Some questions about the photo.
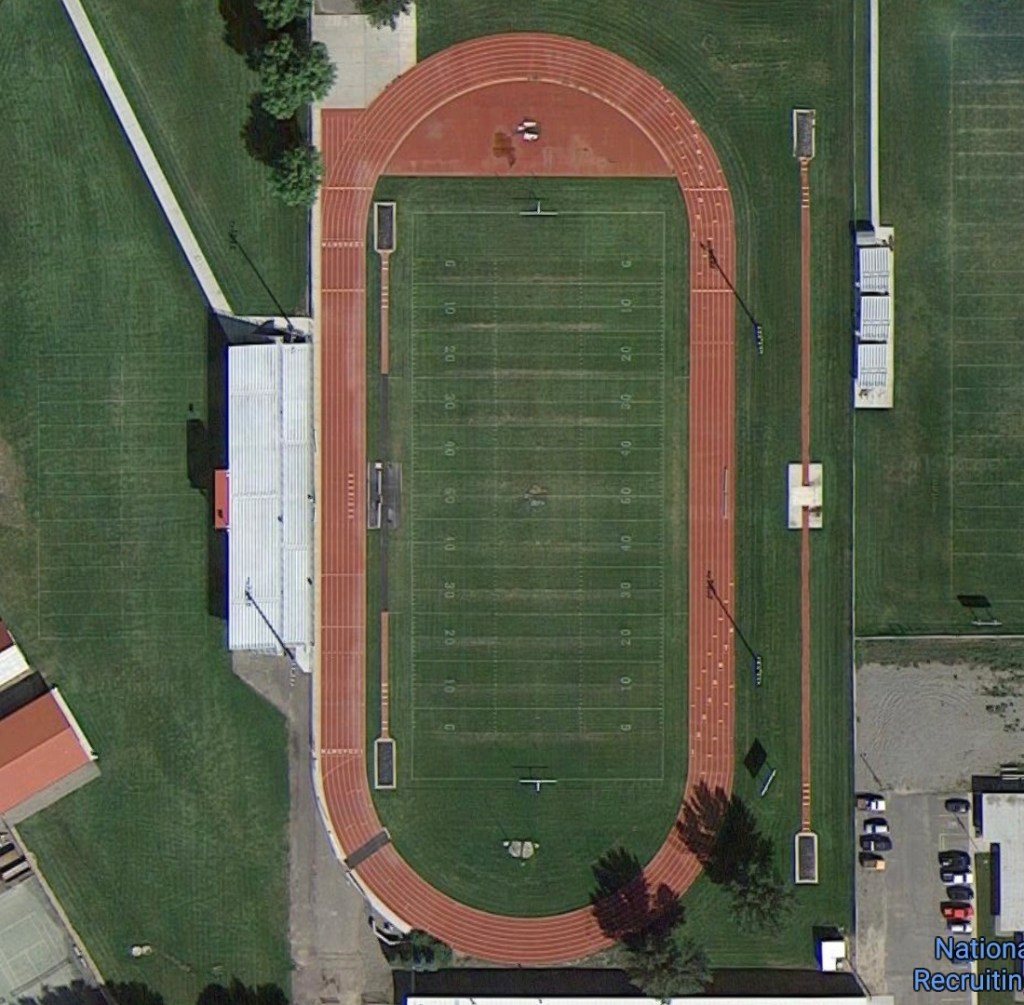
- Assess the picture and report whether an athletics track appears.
Yes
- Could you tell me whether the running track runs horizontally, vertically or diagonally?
vertically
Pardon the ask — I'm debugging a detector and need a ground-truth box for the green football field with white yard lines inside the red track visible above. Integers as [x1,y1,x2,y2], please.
[366,178,690,916]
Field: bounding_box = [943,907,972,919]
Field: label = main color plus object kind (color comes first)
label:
red vehicle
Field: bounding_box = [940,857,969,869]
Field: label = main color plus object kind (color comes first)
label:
black vehicle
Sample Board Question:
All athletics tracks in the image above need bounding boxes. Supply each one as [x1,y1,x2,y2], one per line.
[320,33,735,961]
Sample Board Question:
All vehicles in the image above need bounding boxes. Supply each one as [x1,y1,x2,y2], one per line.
[857,798,885,811]
[949,889,972,900]
[943,873,972,884]
[950,956,973,967]
[949,923,973,933]
[862,859,886,870]
[943,907,972,919]
[864,823,887,834]
[940,857,969,869]
[946,801,969,812]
